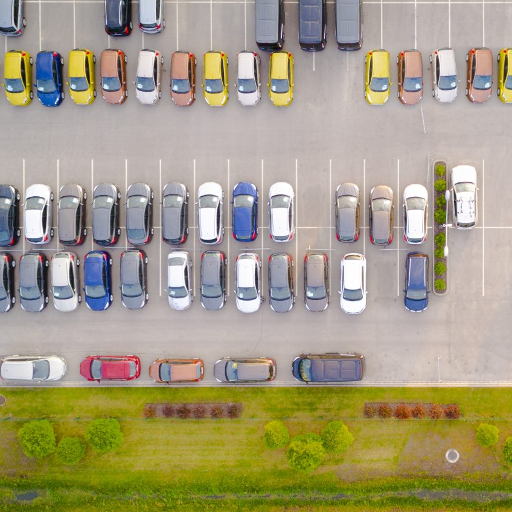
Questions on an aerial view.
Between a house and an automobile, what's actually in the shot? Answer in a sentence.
The one in the frame is an automobile.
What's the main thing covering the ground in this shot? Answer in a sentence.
The scene is dominated by paved ground.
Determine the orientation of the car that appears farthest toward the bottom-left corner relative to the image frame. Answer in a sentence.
The car that appears farthest toward the bottom-left corner has been laid out horizontally relative to the frame.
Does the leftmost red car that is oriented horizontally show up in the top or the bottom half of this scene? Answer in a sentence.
The leftmost red car that is oriented horizontally is in the bottom half of the image.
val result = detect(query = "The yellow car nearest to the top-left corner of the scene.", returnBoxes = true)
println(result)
[3,51,34,106]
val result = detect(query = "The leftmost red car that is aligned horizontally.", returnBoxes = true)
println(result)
[84,356,138,383]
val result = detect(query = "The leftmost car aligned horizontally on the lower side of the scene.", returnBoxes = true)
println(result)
[1,355,65,384]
